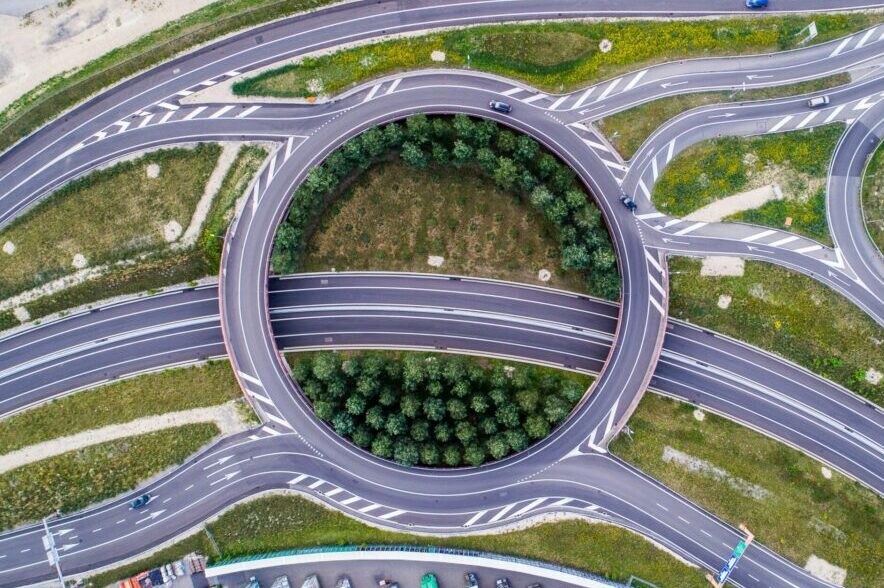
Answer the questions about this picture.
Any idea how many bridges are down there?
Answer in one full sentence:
The picture shows 2 bridges.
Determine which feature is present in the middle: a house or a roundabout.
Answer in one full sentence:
Visible in the middle is a roundabout.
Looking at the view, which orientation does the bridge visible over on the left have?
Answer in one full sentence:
The bridge visible over on the left is oriented up and down.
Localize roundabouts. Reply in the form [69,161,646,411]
[224,68,666,495]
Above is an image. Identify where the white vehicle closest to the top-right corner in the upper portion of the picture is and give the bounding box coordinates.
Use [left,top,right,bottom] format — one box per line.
[806,95,830,108]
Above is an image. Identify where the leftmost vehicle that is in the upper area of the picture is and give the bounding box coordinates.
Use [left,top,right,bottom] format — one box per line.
[489,99,512,113]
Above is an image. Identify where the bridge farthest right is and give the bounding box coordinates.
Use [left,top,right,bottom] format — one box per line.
[586,253,672,444]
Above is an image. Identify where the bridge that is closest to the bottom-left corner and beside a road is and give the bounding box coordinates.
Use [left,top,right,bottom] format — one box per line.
[218,218,287,415]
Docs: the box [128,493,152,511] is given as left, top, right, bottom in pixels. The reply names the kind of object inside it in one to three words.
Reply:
car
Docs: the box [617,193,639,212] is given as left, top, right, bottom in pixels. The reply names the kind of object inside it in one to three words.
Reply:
car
